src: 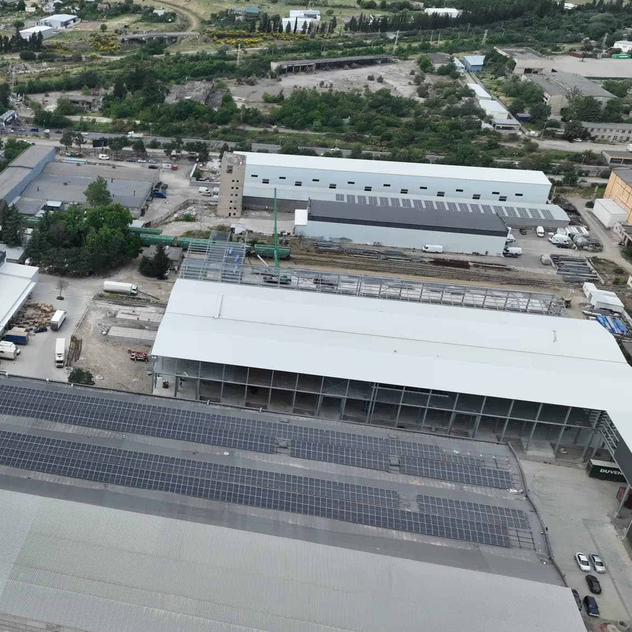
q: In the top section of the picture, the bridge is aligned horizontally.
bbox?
[119,30,192,46]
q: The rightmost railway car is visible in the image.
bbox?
[253,243,293,260]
